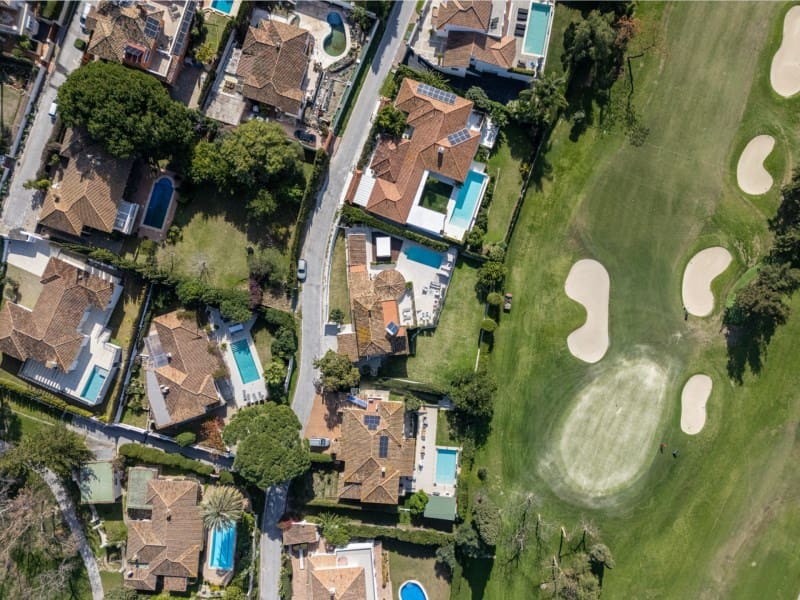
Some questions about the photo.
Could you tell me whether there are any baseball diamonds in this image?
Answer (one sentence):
No, this view has no baseball diamond in it.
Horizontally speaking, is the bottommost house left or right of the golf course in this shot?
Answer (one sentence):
From the viewer's perspective, the bottommost house falls to the left of the golf course.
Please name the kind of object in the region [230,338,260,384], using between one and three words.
swimming pool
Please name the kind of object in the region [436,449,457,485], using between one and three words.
swimming pool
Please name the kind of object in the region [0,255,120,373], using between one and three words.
house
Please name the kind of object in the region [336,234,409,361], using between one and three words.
house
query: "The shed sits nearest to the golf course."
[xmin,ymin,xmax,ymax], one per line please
[424,494,456,520]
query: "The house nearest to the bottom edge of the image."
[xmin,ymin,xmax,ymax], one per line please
[306,540,375,600]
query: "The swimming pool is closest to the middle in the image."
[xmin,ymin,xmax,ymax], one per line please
[402,244,445,270]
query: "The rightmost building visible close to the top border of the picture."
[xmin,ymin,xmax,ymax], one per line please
[438,0,516,77]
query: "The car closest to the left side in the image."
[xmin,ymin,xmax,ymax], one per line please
[48,102,61,122]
